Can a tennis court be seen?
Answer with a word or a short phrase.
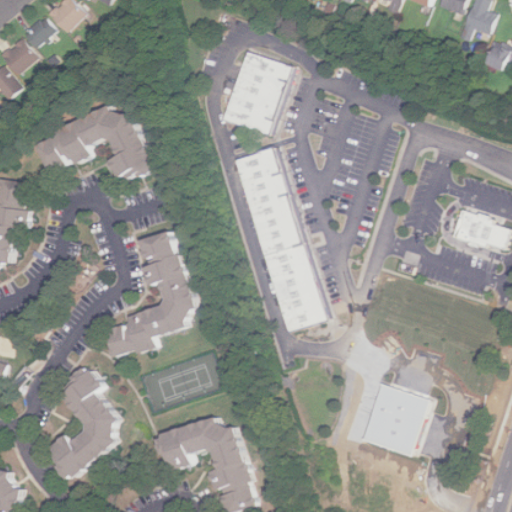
Yes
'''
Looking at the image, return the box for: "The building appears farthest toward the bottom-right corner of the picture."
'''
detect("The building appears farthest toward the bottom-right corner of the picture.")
[363,386,440,458]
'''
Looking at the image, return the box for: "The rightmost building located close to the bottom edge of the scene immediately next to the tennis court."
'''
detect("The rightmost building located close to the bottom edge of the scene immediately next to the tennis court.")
[155,414,259,512]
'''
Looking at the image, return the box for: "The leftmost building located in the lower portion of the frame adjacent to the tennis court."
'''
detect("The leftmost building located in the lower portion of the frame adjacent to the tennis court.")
[52,368,122,477]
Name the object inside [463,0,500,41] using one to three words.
house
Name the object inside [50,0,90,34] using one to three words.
house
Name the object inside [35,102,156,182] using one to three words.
building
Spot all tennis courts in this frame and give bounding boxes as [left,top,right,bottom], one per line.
[140,351,220,414]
